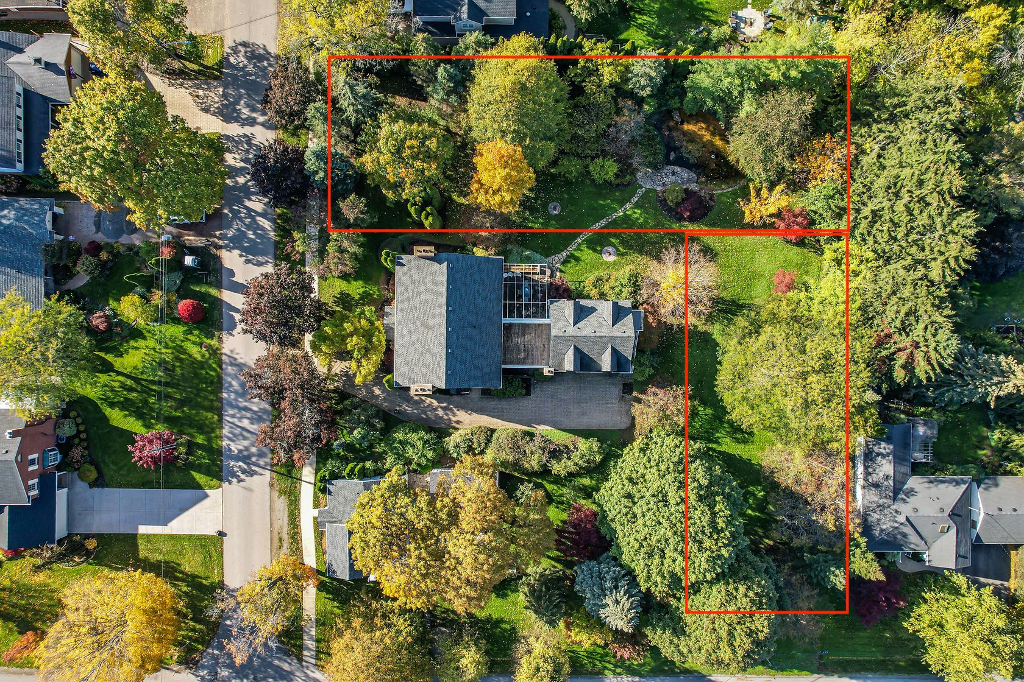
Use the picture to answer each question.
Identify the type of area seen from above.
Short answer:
residential area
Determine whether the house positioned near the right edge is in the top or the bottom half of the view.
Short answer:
bottom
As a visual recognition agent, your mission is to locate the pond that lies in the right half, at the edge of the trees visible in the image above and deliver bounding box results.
[644,104,745,183]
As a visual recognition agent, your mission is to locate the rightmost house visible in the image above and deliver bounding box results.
[855,423,1024,573]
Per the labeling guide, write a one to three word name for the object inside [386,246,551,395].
house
